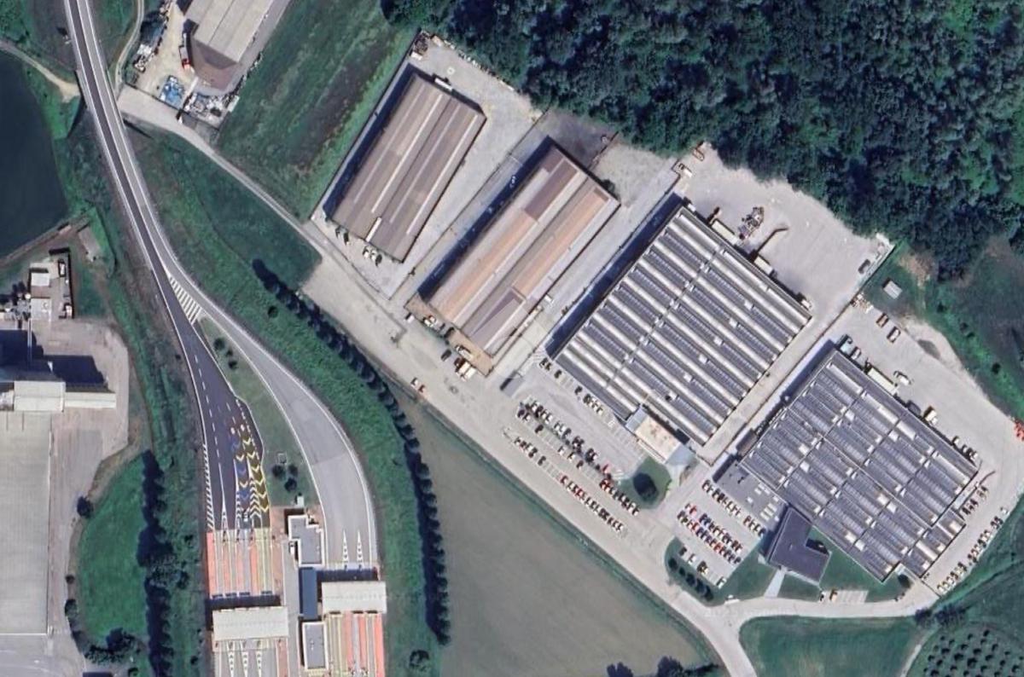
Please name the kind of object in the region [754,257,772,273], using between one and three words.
vehicle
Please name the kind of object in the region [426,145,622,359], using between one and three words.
warehouse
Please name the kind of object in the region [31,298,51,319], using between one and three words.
shed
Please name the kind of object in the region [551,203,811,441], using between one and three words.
building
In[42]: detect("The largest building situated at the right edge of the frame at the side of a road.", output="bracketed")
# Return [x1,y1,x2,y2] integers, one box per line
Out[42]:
[739,349,977,582]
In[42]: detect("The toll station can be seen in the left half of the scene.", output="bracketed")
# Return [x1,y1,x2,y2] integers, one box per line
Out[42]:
[207,511,387,677]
